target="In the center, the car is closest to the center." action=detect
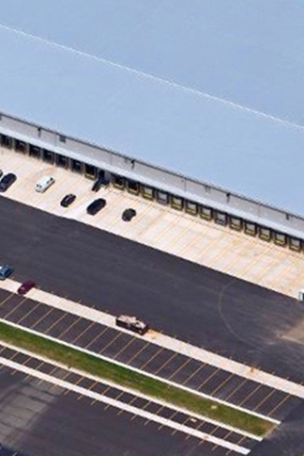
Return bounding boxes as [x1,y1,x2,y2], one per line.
[120,207,136,220]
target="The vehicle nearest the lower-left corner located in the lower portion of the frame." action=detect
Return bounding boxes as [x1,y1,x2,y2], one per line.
[16,279,36,293]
